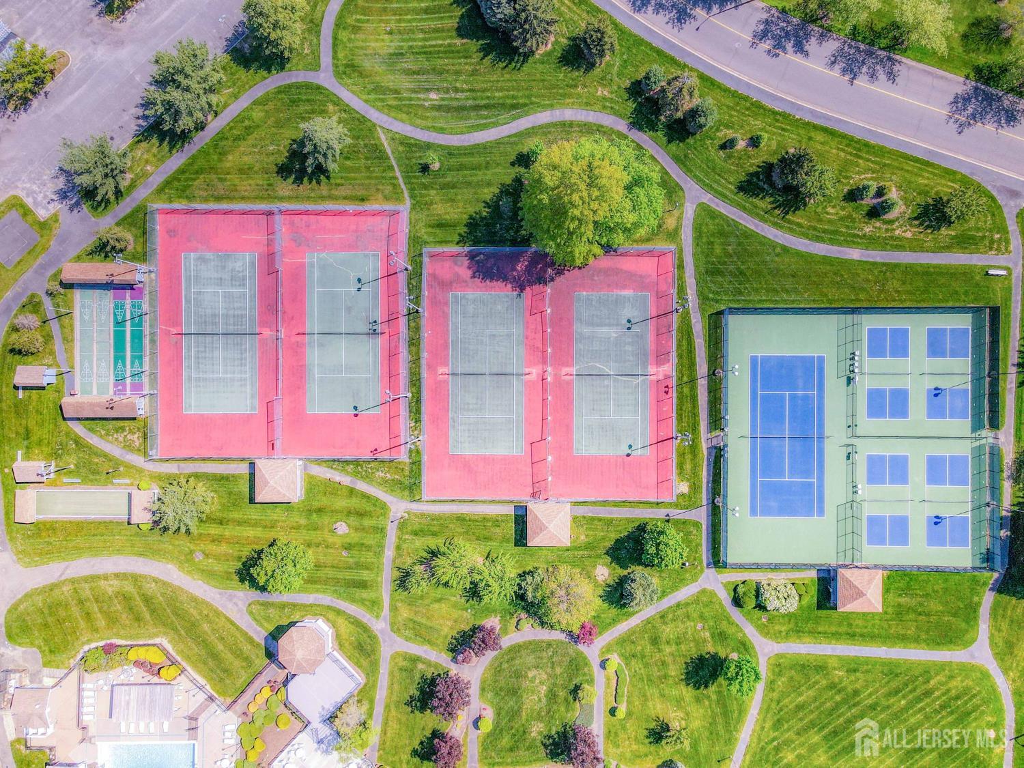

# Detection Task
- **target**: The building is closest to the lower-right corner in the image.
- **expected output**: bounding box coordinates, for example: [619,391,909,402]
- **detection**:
[830,569,883,612]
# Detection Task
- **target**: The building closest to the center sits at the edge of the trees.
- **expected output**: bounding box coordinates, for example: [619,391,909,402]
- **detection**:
[527,502,570,547]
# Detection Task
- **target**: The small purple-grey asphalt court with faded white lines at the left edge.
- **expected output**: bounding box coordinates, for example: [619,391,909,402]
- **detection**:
[0,209,40,269]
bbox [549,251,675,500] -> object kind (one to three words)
tennis court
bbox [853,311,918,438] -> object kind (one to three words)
sports court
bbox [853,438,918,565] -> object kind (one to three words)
sports court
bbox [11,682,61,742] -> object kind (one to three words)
building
